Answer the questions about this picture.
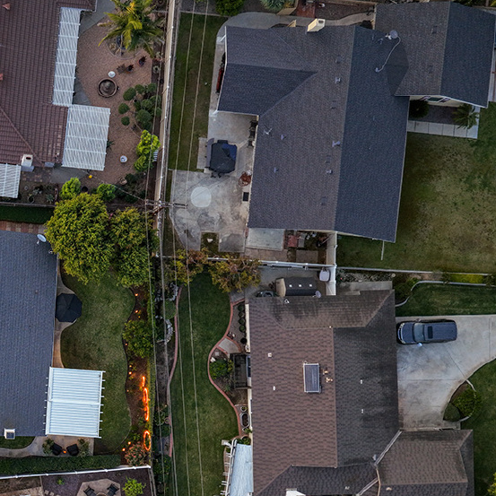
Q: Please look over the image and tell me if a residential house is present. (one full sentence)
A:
Yes, the frame does contain a residential house.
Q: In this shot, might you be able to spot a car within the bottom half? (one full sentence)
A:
Yes, the scene does show a car within the bottom half.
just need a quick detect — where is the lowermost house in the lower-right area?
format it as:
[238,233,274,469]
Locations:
[247,289,474,496]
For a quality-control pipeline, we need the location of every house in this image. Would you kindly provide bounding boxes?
[247,289,474,496]
[0,0,96,174]
[216,0,496,243]
[0,231,56,440]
